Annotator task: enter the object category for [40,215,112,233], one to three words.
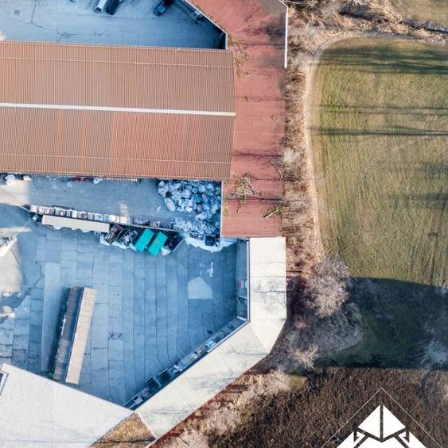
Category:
trailer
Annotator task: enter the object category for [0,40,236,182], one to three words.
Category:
building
